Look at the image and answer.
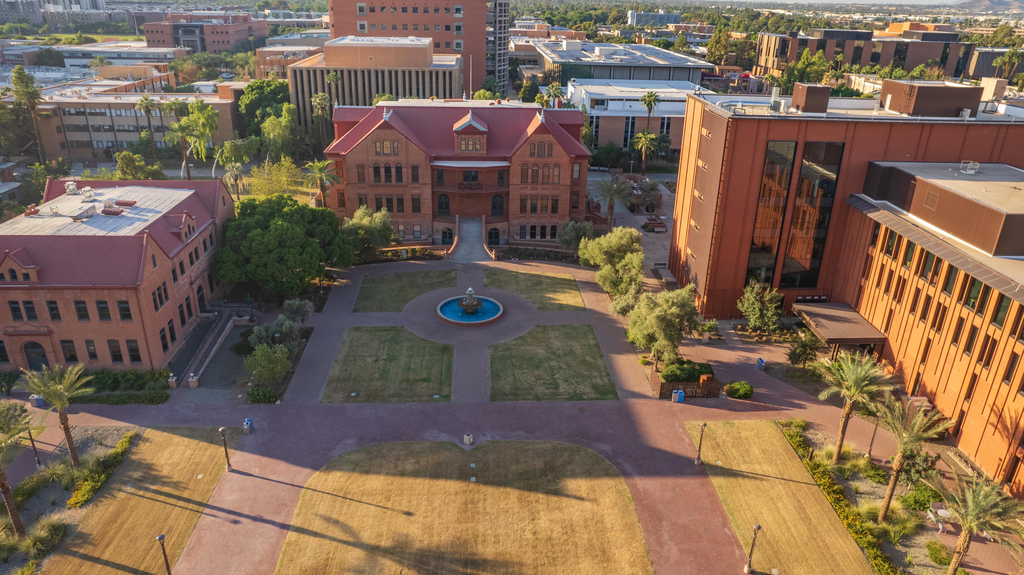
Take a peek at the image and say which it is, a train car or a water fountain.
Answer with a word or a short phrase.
water fountain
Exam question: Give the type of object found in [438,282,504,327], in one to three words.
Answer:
fountain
